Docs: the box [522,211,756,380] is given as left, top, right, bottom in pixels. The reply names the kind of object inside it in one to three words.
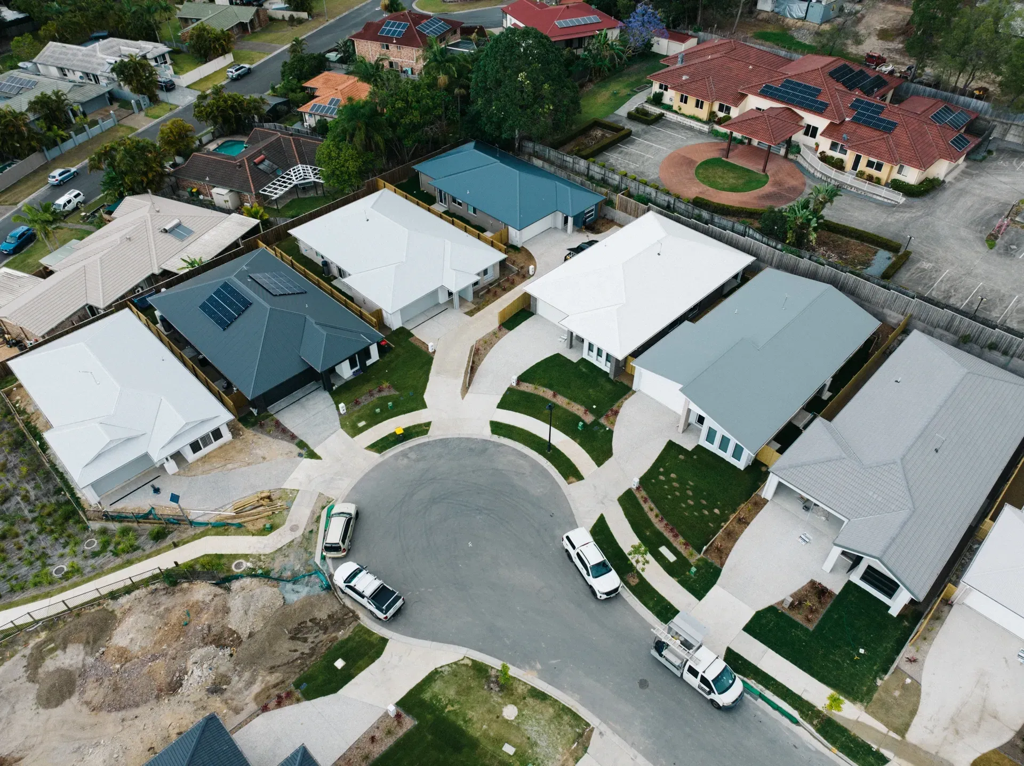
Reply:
house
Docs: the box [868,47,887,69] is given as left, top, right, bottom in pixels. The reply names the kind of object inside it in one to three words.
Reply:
vehicle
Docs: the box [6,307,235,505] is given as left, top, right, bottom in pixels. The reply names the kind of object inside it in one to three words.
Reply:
house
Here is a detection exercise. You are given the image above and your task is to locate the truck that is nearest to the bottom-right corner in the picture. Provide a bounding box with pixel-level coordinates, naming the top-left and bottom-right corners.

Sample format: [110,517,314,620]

[650,618,747,717]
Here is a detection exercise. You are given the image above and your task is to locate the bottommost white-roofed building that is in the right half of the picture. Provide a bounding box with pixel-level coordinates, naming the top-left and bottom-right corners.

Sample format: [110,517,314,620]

[953,504,1024,640]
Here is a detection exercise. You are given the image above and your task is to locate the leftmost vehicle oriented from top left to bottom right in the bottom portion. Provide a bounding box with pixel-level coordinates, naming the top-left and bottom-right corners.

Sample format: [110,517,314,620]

[334,560,404,621]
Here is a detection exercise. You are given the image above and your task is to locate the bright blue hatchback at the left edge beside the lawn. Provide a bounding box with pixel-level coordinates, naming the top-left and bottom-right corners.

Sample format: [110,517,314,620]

[0,227,39,254]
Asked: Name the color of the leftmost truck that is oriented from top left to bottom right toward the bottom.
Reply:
white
